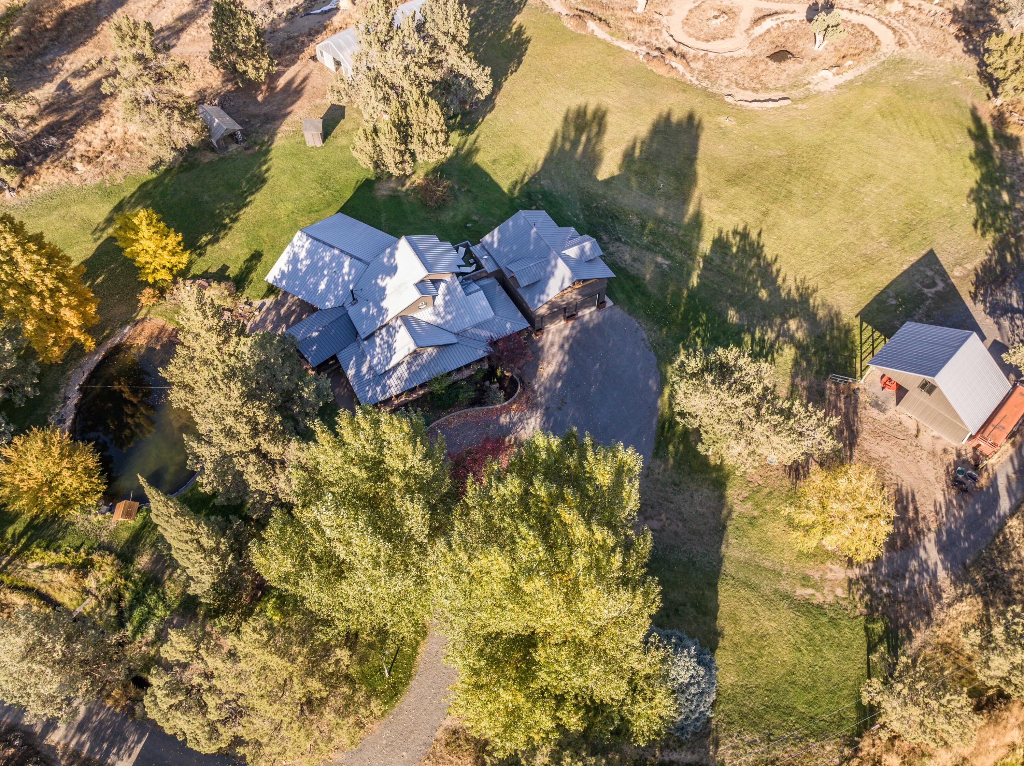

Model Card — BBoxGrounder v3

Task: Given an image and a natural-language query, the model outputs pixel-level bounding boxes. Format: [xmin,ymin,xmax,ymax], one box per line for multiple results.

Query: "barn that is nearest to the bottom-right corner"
[861,321,1014,447]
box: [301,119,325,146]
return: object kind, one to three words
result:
shed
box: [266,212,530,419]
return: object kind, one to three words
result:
house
